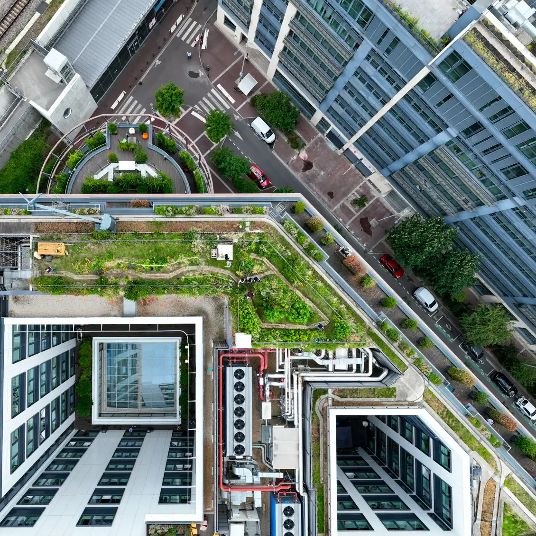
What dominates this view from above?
buildings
